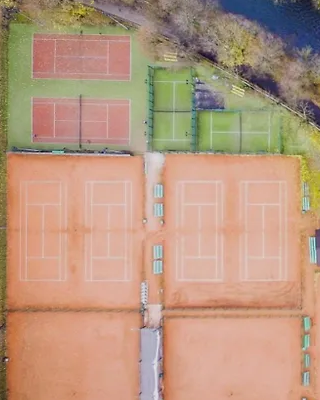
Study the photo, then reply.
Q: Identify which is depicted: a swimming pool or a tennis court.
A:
tennis court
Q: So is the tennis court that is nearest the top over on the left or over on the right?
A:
left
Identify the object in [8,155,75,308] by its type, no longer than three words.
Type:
tennis court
